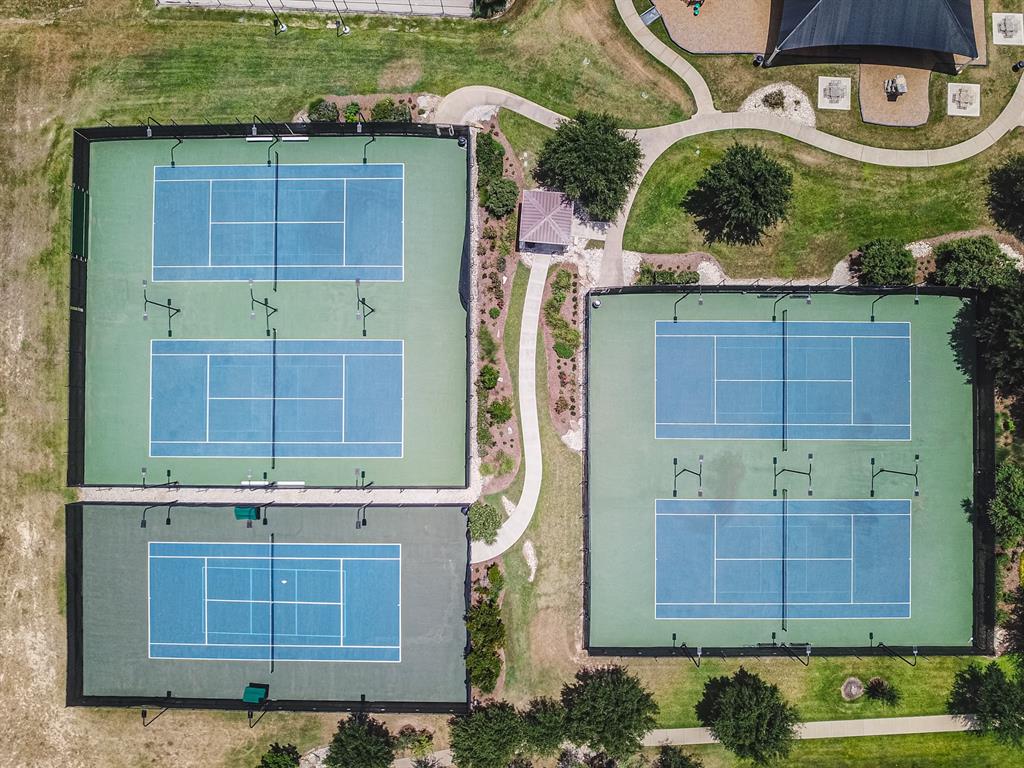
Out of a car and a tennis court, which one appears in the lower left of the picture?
tennis court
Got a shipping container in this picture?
No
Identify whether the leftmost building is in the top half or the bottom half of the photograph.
top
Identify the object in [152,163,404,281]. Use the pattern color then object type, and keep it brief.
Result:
blue tennis court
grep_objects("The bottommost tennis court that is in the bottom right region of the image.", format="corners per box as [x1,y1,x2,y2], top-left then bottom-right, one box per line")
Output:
[655,500,912,619]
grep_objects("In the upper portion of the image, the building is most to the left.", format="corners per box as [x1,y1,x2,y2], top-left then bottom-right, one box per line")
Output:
[518,189,575,252]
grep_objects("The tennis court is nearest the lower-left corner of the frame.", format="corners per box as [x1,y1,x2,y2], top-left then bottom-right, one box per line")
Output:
[148,542,401,663]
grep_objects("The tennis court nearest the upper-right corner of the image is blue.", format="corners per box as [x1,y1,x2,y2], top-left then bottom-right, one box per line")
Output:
[655,321,912,440]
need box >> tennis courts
[148,542,401,663]
[655,500,912,619]
[149,340,404,458]
[152,163,404,281]
[655,321,912,440]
